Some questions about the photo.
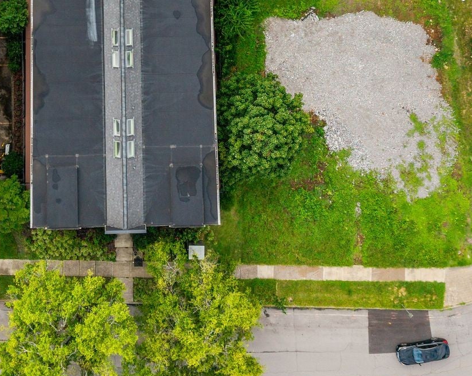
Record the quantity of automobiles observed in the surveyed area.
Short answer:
1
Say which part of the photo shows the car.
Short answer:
bottom right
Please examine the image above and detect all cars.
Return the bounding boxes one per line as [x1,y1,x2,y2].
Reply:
[393,336,450,368]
